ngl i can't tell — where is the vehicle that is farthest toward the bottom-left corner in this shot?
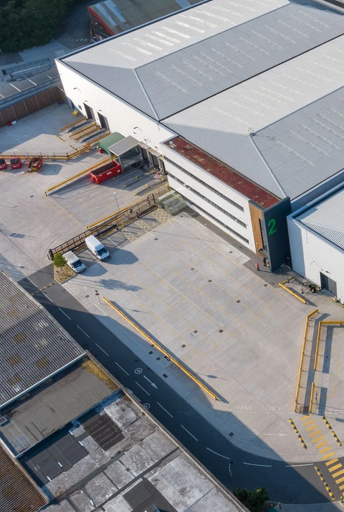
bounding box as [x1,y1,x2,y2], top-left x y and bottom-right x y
[62,249,86,273]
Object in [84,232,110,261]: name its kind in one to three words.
vehicle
